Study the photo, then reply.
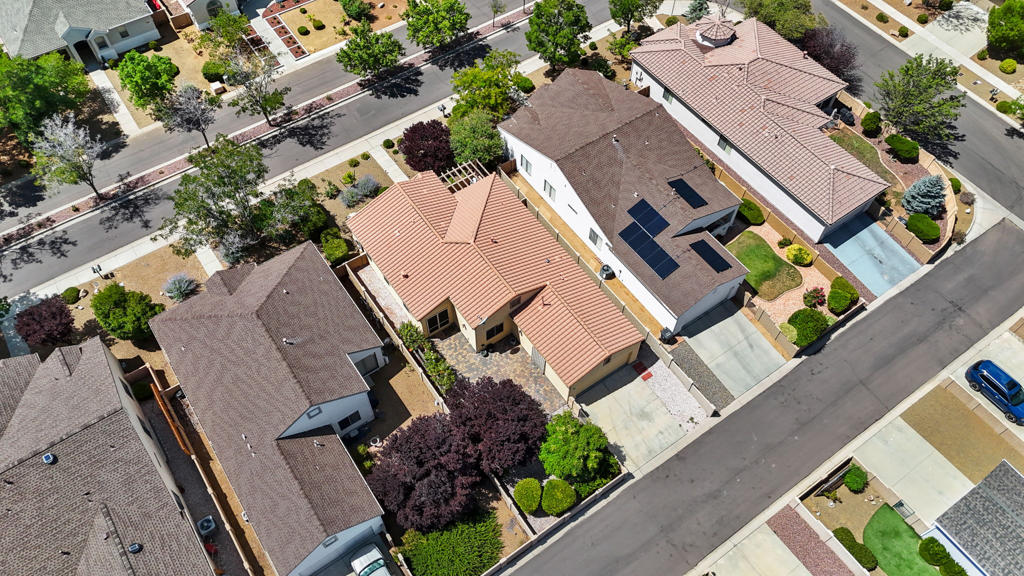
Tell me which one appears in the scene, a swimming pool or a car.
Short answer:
car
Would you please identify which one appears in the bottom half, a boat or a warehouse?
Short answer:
boat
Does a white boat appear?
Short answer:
No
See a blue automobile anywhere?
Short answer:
Yes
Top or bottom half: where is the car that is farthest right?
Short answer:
bottom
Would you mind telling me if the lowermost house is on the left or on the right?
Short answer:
right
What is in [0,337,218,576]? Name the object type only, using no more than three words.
house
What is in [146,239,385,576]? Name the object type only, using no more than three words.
house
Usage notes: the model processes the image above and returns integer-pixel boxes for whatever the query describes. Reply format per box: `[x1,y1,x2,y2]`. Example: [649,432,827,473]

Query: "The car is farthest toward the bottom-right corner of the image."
[967,360,1024,426]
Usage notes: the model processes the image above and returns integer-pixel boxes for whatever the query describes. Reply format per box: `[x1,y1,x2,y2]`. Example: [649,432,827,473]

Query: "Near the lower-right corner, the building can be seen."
[920,460,1024,576]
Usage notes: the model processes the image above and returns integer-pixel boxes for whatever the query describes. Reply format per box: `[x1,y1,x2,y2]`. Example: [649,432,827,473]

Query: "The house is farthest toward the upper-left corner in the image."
[0,0,161,70]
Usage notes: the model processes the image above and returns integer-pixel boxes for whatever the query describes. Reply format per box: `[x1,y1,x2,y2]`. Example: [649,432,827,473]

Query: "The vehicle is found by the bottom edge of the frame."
[352,540,403,576]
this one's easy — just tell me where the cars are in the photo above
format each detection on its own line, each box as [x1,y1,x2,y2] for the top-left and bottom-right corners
[352,540,403,576]
[967,360,1024,426]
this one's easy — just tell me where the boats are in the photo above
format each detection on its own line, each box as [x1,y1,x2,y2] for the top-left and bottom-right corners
[150,380,187,454]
